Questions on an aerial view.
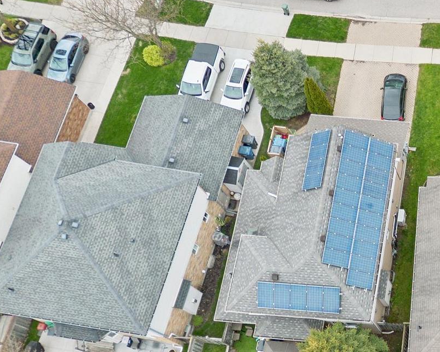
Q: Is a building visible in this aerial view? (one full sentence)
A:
Yes, there's a building here.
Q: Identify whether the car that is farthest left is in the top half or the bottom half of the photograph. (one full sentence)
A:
The car that is farthest left is in the top half of the image.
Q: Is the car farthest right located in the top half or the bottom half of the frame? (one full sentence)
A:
The car farthest right sits in the top half of the picture.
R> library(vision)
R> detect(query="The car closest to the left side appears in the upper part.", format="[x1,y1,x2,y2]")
[9,22,59,75]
